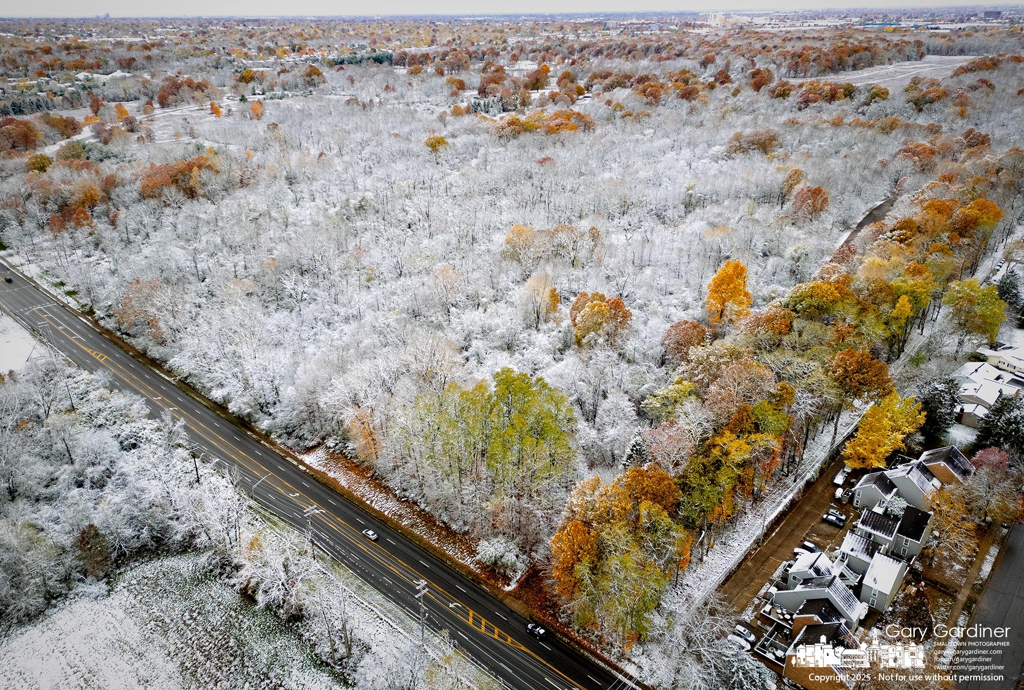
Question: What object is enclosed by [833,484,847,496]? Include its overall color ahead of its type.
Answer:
white vehicle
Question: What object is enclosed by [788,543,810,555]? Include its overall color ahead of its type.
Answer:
white vehicle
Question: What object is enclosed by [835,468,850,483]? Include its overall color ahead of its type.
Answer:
white car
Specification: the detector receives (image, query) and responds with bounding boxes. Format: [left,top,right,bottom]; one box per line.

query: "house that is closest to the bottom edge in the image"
[783,622,867,690]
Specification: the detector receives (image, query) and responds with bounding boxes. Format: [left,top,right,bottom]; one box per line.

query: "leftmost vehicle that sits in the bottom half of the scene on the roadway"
[361,526,378,538]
